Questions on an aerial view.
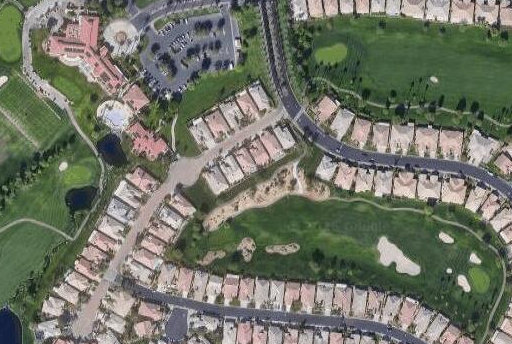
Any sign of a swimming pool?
Yes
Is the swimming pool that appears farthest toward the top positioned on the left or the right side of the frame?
left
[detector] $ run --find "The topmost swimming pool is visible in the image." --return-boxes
[97,100,131,131]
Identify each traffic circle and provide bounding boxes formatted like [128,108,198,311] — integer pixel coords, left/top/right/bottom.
[104,19,140,60]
